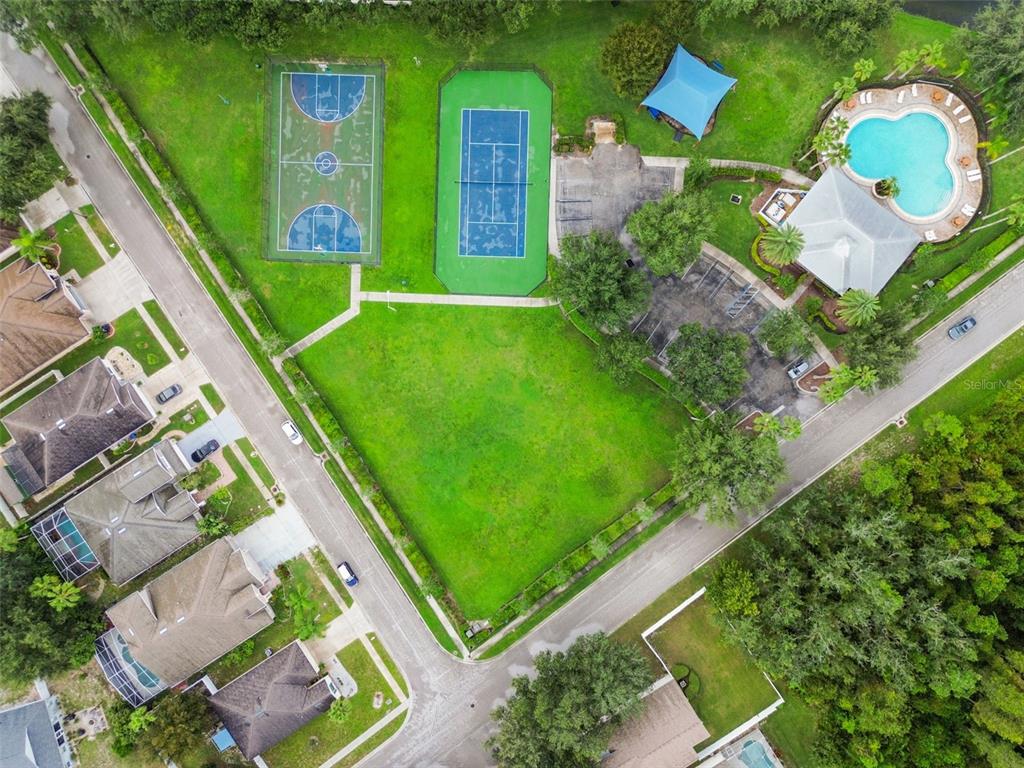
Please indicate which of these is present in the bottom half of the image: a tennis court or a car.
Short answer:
car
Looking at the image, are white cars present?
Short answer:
Yes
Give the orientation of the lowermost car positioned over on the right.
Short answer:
on a diagonal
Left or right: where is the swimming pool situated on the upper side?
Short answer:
right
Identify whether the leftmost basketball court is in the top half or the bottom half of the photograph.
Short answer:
top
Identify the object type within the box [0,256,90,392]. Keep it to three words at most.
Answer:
house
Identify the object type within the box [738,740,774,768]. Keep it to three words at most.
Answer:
swimming pool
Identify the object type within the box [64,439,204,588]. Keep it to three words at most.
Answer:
house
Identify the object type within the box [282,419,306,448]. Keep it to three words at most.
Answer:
car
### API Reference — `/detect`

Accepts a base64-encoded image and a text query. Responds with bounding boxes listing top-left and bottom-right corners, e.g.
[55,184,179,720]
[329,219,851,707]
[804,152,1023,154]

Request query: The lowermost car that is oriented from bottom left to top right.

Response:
[191,439,222,463]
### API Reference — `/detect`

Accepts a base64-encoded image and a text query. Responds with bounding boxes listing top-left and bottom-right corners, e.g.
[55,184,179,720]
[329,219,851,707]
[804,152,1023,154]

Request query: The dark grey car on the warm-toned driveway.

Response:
[156,383,186,405]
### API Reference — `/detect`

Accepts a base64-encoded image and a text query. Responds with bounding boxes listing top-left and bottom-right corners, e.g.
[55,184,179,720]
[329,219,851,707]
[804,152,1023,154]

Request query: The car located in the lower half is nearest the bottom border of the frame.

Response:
[336,558,361,588]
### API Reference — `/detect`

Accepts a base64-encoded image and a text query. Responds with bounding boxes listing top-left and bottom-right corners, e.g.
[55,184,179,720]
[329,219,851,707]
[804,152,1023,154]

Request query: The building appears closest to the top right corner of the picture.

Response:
[783,166,921,297]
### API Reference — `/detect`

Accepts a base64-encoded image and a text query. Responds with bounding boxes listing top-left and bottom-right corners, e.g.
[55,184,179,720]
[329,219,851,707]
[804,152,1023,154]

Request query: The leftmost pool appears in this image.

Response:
[59,518,96,566]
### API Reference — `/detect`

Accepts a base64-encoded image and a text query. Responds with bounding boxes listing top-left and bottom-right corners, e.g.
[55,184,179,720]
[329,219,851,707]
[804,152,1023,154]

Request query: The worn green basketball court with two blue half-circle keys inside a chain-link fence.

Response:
[267,63,384,264]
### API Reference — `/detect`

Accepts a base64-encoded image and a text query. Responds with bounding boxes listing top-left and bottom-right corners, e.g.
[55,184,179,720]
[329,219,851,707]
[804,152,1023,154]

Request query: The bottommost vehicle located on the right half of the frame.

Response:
[784,360,810,381]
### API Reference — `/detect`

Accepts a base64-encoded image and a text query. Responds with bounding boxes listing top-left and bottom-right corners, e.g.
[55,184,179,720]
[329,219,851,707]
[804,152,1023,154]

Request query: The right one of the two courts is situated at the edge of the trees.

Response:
[434,70,552,294]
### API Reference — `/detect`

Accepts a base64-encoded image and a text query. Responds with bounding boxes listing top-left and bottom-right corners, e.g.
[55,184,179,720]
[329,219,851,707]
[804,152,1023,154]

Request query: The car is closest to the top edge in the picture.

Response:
[946,316,977,340]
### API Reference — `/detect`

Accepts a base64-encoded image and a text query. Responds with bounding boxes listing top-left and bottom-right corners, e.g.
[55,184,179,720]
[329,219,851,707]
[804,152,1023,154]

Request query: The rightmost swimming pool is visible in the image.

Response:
[818,83,983,243]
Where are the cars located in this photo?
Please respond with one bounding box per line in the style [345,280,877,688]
[156,383,186,405]
[336,558,361,588]
[946,316,977,340]
[282,419,306,448]
[191,439,222,463]
[784,360,810,381]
